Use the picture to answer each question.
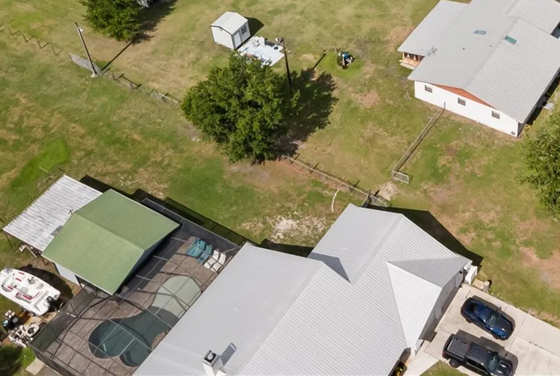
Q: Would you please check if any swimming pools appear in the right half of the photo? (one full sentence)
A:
No, there's no swimming pool to be seen in the right half of the photo.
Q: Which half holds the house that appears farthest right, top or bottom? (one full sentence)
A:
The house that appears farthest right sits in the top half of the picture.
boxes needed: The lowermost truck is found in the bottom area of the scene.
[446,329,517,376]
